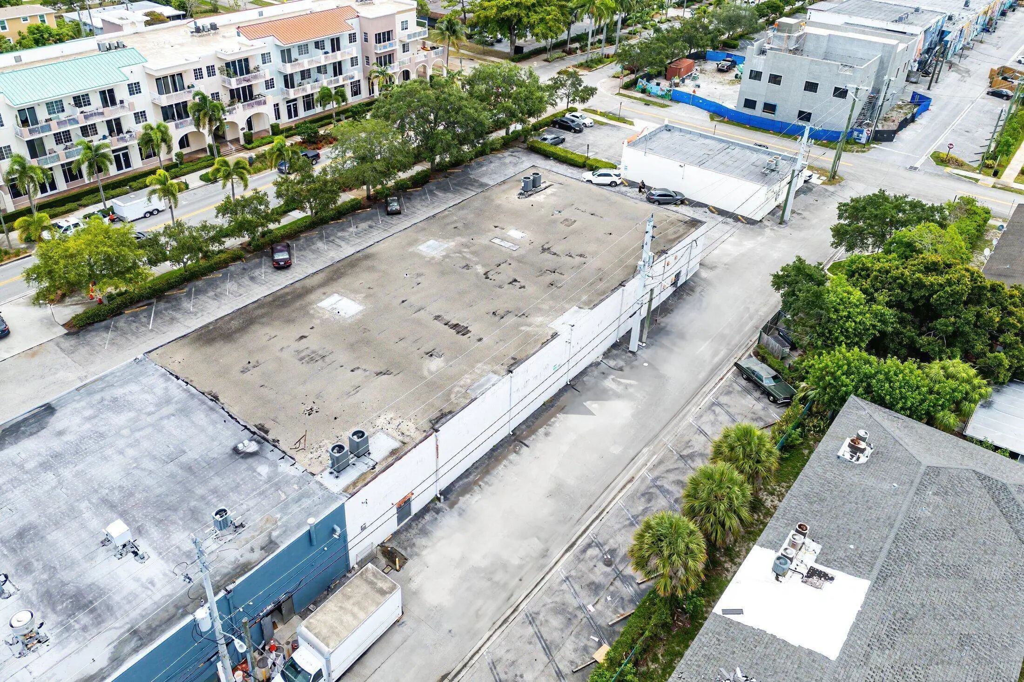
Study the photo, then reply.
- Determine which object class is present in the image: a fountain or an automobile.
automobile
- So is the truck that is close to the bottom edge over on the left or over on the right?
left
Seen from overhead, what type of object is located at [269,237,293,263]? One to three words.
car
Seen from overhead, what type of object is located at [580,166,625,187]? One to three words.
car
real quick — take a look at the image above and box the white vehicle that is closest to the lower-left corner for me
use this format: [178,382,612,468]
[273,565,404,682]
